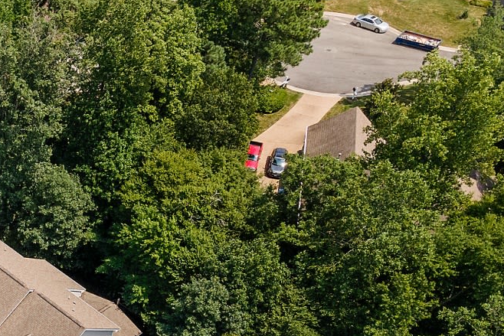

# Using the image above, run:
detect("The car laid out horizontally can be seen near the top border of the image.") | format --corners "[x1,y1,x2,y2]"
[352,16,388,32]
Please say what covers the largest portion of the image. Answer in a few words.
trees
